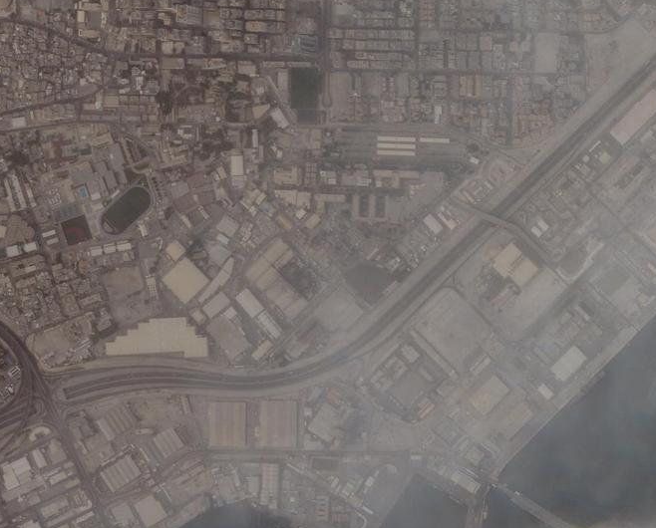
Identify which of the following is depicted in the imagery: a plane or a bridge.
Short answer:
bridge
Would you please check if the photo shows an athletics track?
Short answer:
Yes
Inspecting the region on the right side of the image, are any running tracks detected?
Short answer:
No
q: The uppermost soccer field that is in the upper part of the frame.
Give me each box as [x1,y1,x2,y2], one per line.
[291,67,319,109]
